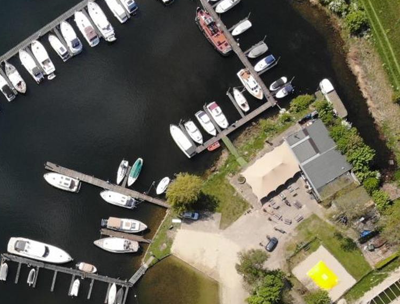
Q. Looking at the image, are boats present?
Yes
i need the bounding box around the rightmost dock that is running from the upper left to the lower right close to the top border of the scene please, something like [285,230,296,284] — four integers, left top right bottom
[202,0,279,107]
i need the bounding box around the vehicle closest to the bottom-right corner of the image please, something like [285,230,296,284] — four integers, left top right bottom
[263,236,278,253]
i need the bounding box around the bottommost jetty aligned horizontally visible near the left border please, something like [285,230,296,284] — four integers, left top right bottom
[2,251,134,289]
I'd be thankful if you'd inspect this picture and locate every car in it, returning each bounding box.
[181,212,199,220]
[263,236,278,253]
